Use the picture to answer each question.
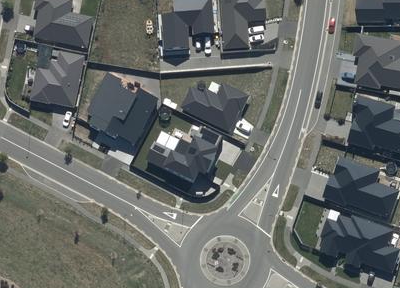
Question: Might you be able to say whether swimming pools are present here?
No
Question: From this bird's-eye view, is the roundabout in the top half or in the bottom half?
bottom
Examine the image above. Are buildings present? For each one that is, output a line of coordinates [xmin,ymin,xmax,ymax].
[144,127,222,186]
[161,0,214,52]
[348,34,400,92]
[88,73,158,146]
[356,0,400,24]
[318,216,398,274]
[28,0,94,50]
[32,52,84,108]
[182,84,249,135]
[322,158,399,224]
[346,95,400,153]
[220,0,266,52]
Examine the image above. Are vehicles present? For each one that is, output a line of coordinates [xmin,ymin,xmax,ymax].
[236,121,252,134]
[328,18,336,34]
[250,34,264,42]
[62,111,72,128]
[390,232,400,247]
[368,272,375,286]
[204,38,211,54]
[340,71,350,78]
[250,26,264,34]
[314,90,322,107]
